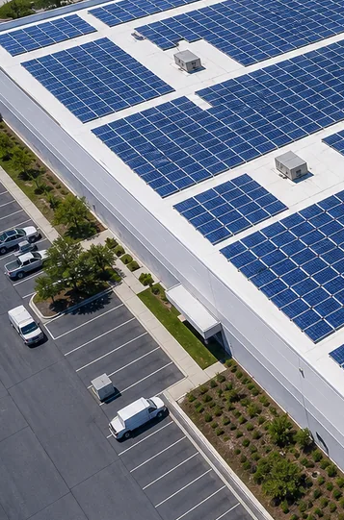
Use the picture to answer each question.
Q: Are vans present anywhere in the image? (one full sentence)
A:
Yes, there is a van in the image.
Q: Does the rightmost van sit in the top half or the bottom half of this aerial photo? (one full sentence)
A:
Seen from above, the rightmost van lies in the bottom half of the view.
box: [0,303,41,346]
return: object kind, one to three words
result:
van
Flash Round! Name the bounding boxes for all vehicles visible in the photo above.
[0,225,39,255]
[1,248,55,280]
[110,393,174,438]
[0,303,41,346]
